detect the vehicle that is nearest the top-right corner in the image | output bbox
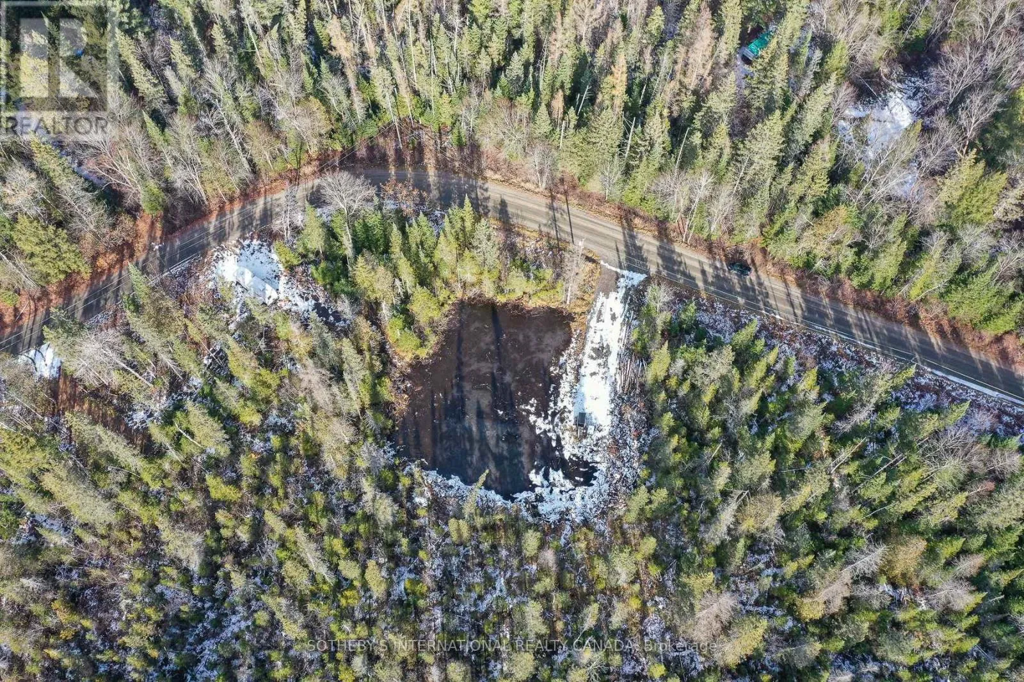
[726,262,755,280]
